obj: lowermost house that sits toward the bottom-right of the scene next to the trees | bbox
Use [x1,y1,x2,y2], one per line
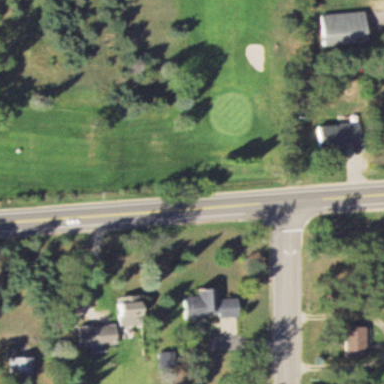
[346,326,368,352]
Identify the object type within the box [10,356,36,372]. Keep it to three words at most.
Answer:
shed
